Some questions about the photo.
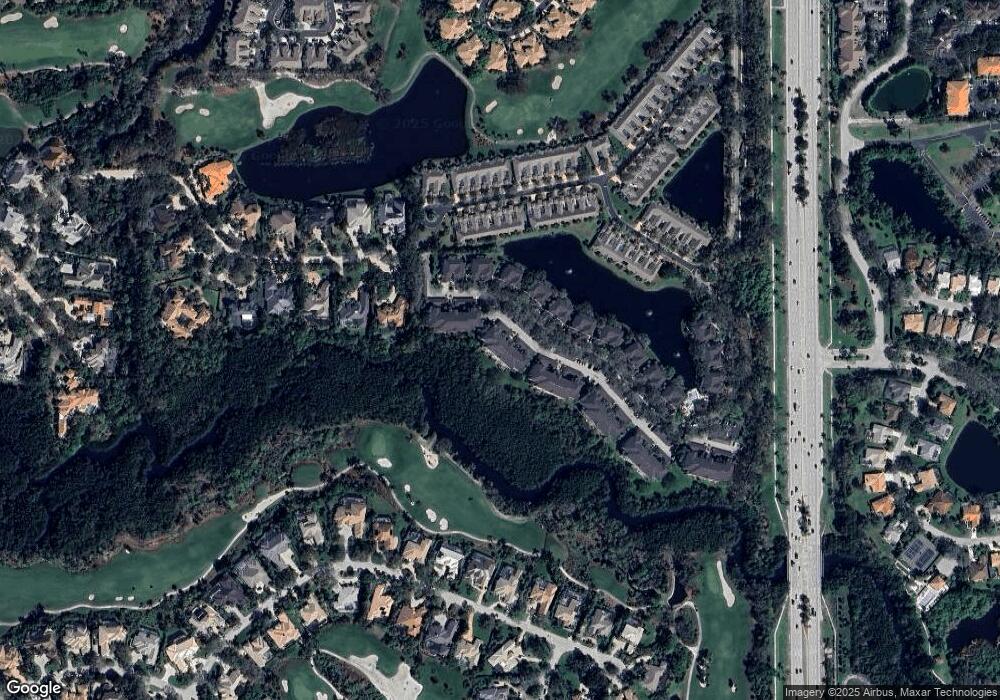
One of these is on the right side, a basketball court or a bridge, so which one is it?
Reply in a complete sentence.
The feature located on the right side is a bridge.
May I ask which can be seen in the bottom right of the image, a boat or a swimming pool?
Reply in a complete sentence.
You can see a swimming pool in the bottom right of the image.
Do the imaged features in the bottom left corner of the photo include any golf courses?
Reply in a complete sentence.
Yes, I can see a golf course in the bottom left corner of the photo.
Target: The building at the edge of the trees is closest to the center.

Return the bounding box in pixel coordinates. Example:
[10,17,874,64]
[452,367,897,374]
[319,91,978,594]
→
[478,321,532,371]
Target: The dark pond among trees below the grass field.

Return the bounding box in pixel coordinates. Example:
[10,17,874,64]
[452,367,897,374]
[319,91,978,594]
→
[870,156,957,240]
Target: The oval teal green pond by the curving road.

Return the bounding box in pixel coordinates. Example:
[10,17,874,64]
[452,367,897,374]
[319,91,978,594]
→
[869,67,931,114]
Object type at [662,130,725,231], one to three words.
pond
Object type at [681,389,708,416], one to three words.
swimming pool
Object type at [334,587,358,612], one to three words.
house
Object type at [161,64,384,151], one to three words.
golf course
